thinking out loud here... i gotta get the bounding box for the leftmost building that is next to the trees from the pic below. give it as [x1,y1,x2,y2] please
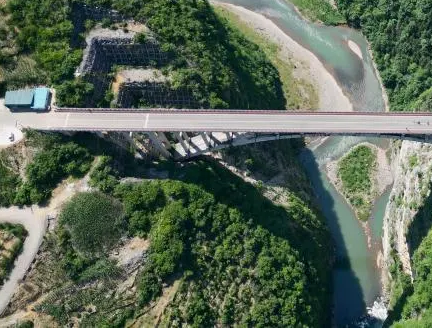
[4,90,33,107]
